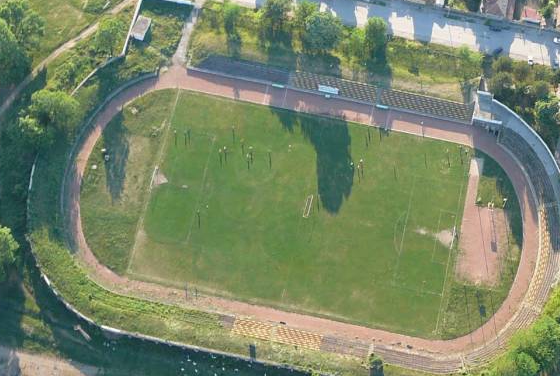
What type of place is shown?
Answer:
sports ground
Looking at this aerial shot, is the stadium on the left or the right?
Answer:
right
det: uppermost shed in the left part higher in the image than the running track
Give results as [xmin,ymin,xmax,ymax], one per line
[132,16,151,41]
